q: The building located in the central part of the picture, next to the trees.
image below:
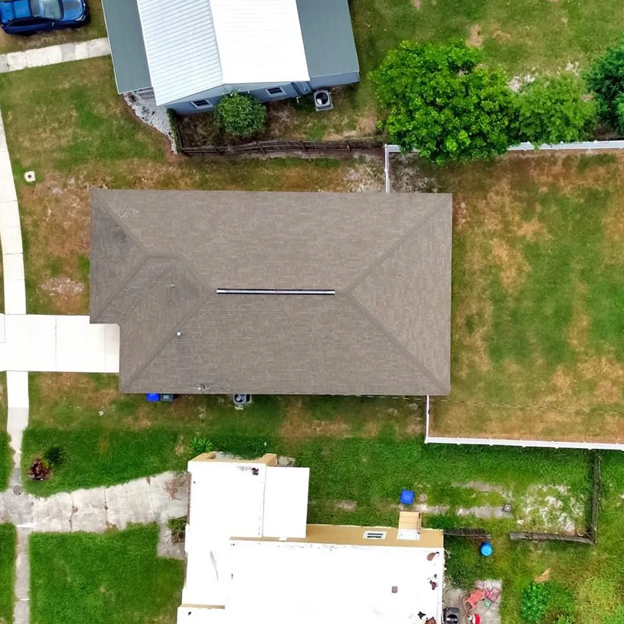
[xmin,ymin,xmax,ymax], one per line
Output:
[89,187,453,397]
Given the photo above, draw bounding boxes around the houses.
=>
[176,460,444,624]
[101,0,361,113]
[89,187,453,397]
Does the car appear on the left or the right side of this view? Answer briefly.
left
